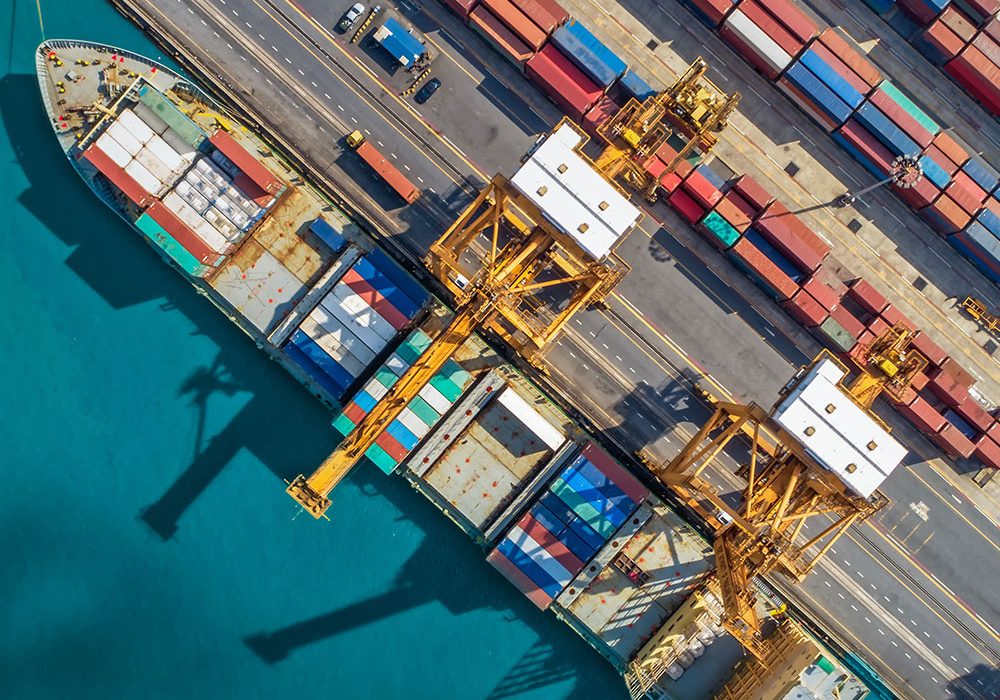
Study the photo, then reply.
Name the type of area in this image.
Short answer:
port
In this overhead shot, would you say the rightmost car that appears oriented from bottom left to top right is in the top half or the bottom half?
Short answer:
top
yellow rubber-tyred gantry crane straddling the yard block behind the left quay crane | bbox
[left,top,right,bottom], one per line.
[621,56,752,206]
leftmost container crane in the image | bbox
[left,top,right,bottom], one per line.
[287,88,678,520]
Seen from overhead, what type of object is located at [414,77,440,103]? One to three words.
car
